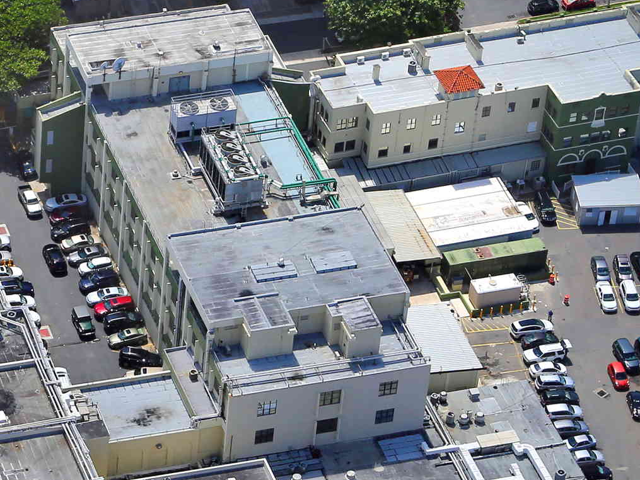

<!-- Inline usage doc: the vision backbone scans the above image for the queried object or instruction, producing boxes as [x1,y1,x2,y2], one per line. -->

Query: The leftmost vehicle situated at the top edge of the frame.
[523,0,563,16]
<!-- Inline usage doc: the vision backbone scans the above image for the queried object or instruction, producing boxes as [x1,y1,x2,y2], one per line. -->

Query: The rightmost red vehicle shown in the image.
[607,363,628,391]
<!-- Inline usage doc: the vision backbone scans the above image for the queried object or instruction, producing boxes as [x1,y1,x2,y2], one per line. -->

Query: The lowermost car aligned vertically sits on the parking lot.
[625,391,640,424]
